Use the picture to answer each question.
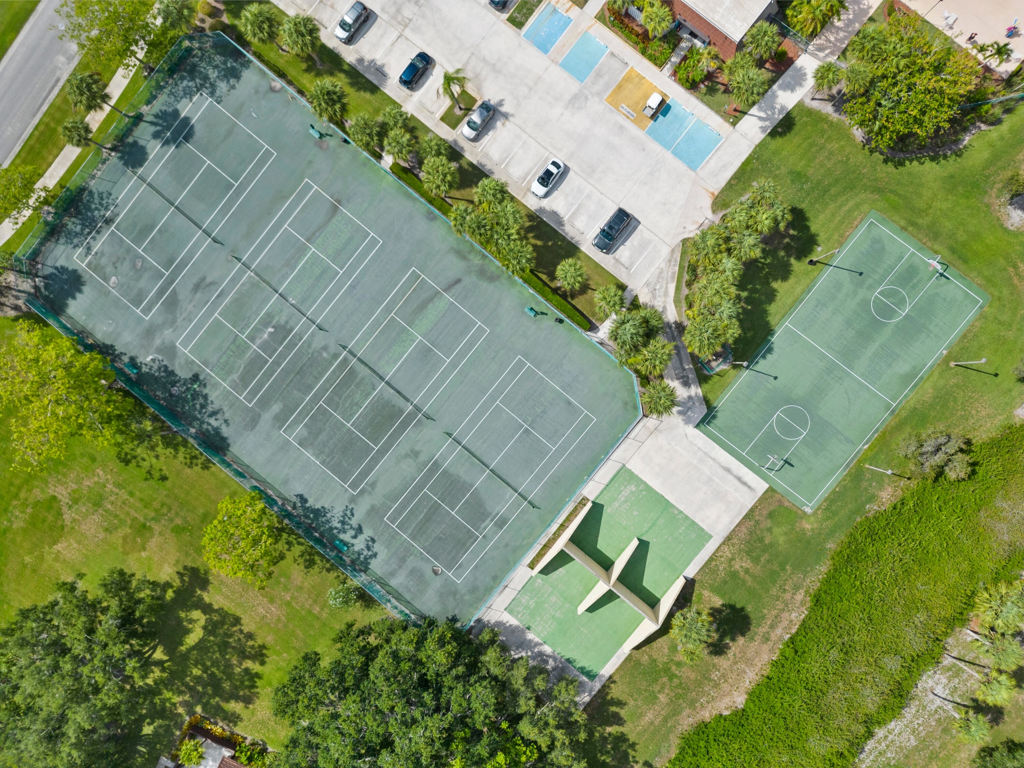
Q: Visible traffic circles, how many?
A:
zero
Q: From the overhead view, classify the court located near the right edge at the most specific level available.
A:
basketball court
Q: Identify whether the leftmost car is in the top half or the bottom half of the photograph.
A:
top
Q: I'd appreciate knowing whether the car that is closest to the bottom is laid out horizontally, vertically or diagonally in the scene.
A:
diagonally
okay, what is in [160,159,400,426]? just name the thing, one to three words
tennis court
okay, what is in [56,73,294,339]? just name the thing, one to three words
tennis court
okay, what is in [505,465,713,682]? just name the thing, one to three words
sports court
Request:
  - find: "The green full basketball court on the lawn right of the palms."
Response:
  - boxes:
[696,209,991,514]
